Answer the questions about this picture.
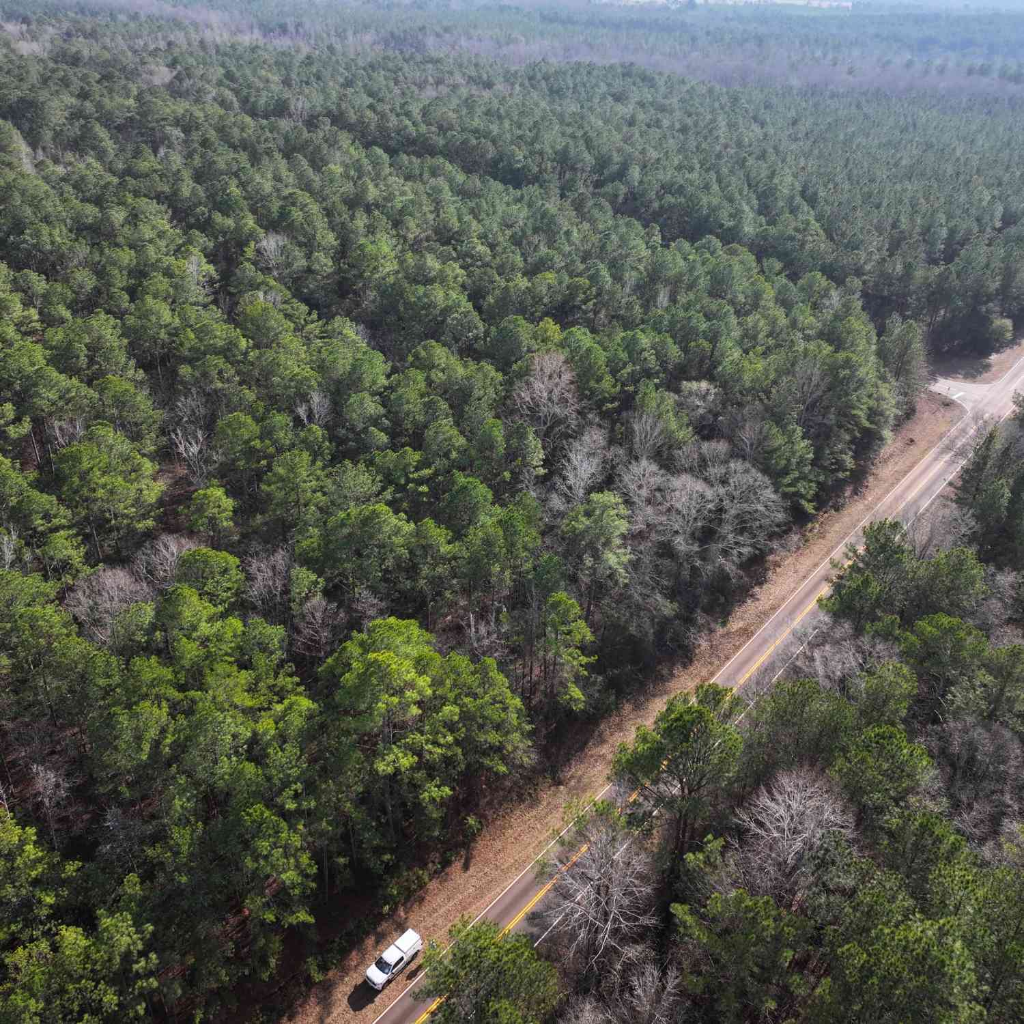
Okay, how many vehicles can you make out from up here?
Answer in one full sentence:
There is 1 vehicle in the image.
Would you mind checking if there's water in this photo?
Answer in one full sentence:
No, there's no water in this view.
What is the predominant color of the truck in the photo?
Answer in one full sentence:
The truck looks white in the image.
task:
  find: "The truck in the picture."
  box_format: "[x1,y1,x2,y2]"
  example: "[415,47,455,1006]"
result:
[368,931,422,990]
